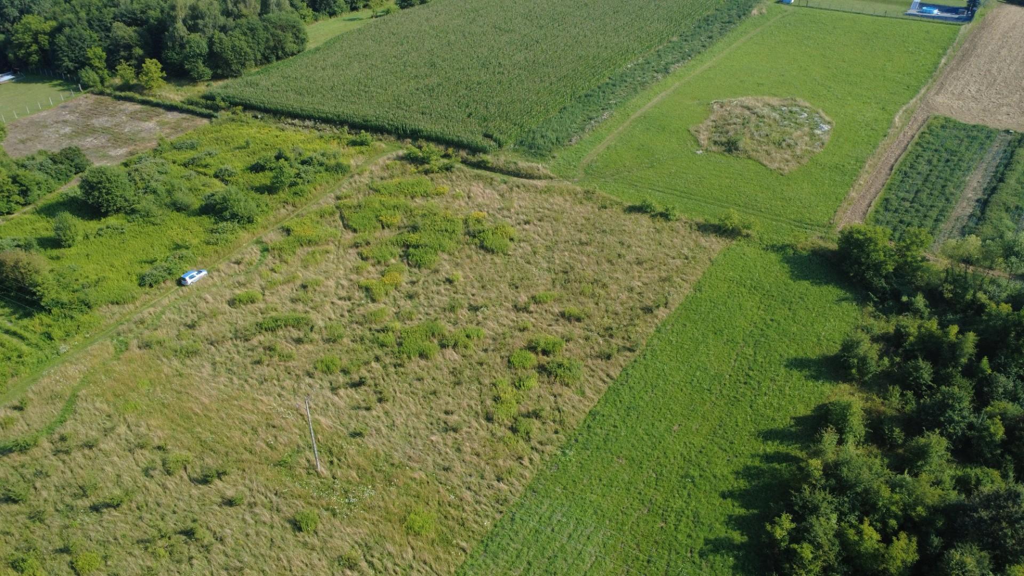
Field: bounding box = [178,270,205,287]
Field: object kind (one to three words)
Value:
car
